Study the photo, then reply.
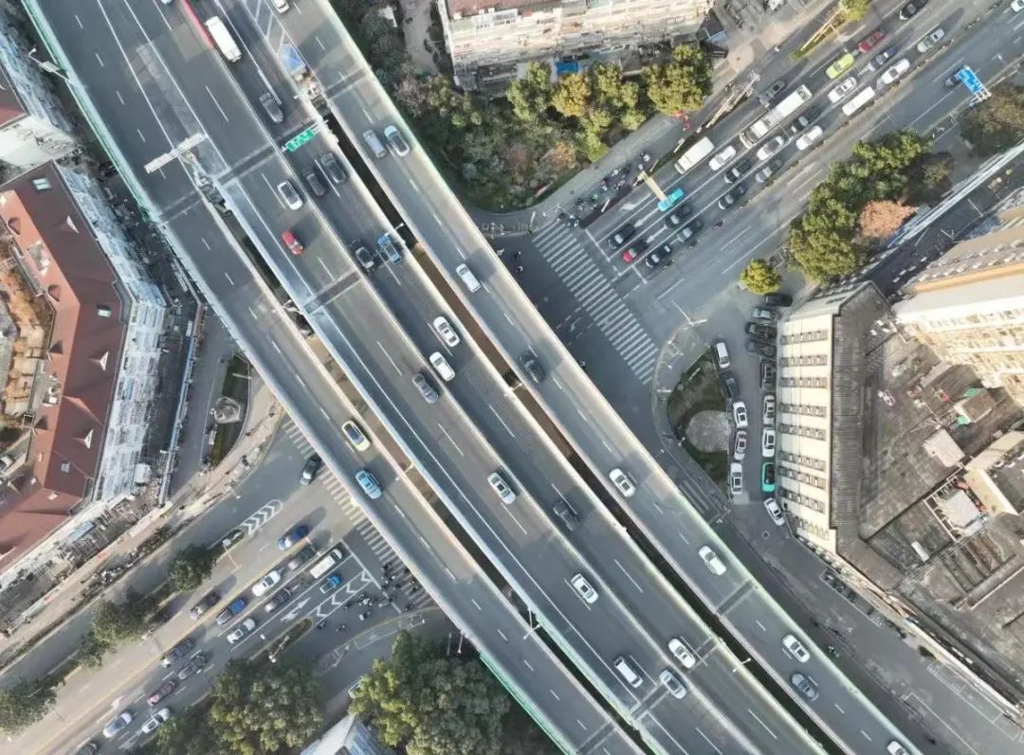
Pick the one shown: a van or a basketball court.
van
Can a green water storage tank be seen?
No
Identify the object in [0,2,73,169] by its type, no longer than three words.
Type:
building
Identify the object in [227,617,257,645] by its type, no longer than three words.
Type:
car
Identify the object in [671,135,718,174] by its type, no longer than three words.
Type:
vehicle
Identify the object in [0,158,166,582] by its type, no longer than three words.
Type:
building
